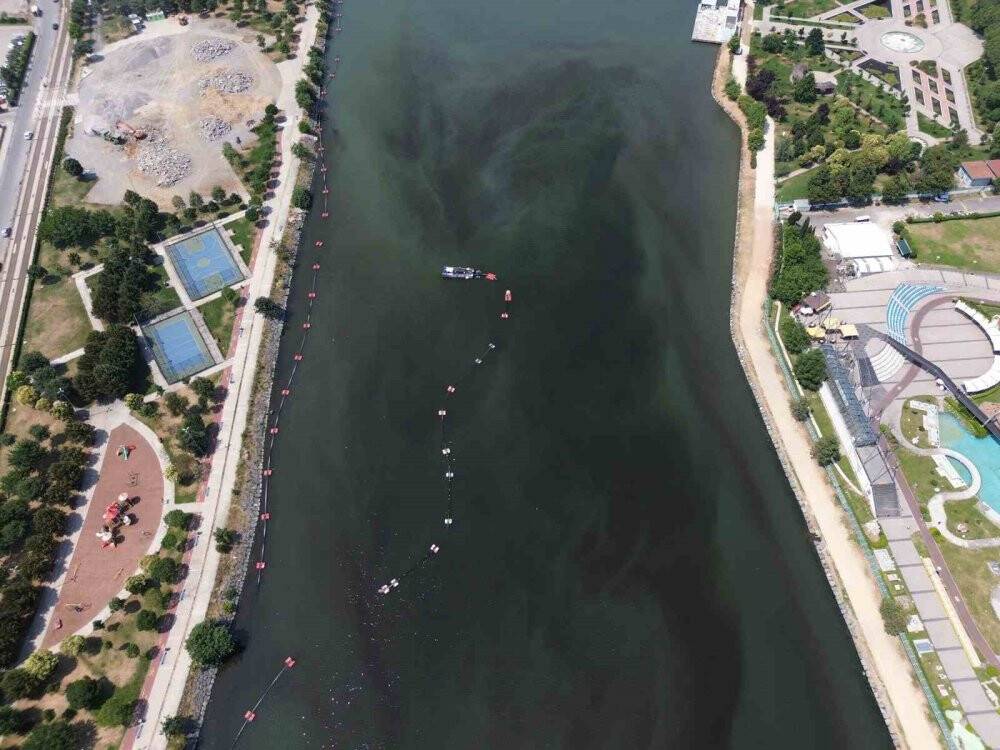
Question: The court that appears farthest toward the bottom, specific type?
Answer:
tennis court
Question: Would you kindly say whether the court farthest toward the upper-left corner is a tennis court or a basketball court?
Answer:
basketball court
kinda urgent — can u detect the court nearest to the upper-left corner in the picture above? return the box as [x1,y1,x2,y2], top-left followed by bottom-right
[160,220,244,303]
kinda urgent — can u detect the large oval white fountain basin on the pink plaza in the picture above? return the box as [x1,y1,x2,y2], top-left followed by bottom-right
[881,30,926,53]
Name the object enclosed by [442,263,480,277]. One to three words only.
boat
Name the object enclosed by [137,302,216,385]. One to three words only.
tennis court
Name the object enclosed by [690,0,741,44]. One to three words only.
pier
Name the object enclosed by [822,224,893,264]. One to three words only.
building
